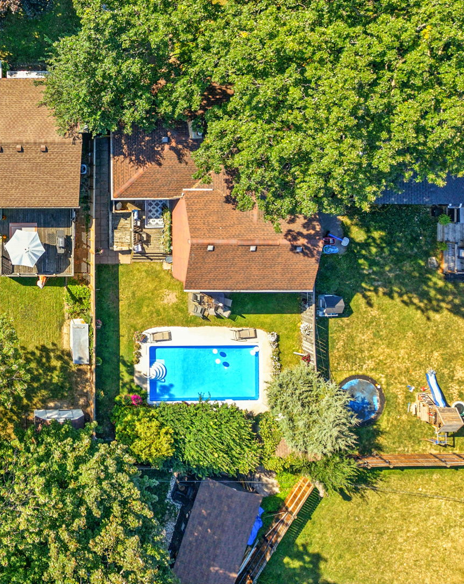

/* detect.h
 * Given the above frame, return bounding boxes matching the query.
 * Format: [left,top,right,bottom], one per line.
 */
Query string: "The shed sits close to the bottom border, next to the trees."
[165,464,263,584]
